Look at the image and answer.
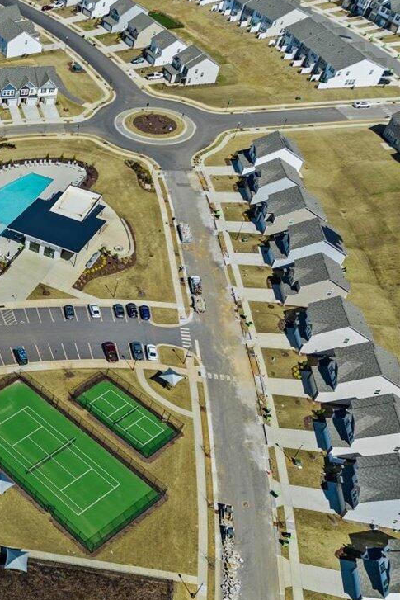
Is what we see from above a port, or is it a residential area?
residential area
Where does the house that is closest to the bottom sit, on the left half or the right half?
right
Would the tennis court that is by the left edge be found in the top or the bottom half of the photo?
bottom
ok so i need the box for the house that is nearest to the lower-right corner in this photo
[344,530,400,600]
